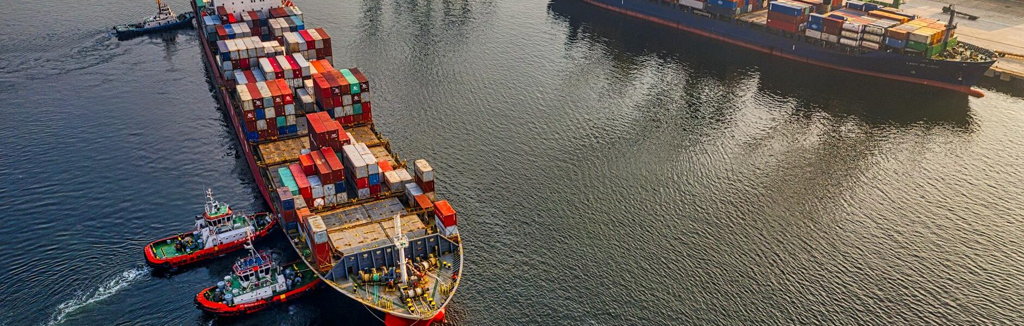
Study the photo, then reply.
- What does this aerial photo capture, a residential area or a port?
port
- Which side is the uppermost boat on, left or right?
left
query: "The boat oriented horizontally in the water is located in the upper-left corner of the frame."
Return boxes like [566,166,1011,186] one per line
[112,0,196,38]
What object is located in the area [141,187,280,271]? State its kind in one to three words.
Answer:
boat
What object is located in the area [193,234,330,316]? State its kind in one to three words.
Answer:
boat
